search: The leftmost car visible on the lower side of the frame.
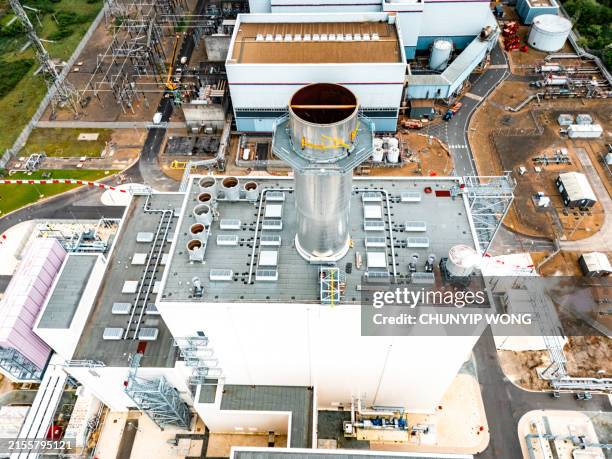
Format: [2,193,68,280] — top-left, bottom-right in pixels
[549,380,566,402]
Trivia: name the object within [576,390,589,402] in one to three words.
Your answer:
vehicle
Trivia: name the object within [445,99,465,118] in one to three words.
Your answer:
vehicle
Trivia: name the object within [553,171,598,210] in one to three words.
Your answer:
shed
